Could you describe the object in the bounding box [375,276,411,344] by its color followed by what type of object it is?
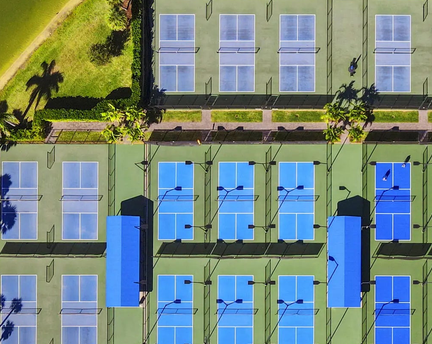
blue sports court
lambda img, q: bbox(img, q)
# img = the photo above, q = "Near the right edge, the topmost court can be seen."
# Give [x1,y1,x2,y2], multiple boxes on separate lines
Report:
[376,15,411,92]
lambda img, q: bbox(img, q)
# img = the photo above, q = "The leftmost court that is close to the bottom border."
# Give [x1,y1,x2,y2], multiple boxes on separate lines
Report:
[1,275,37,344]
